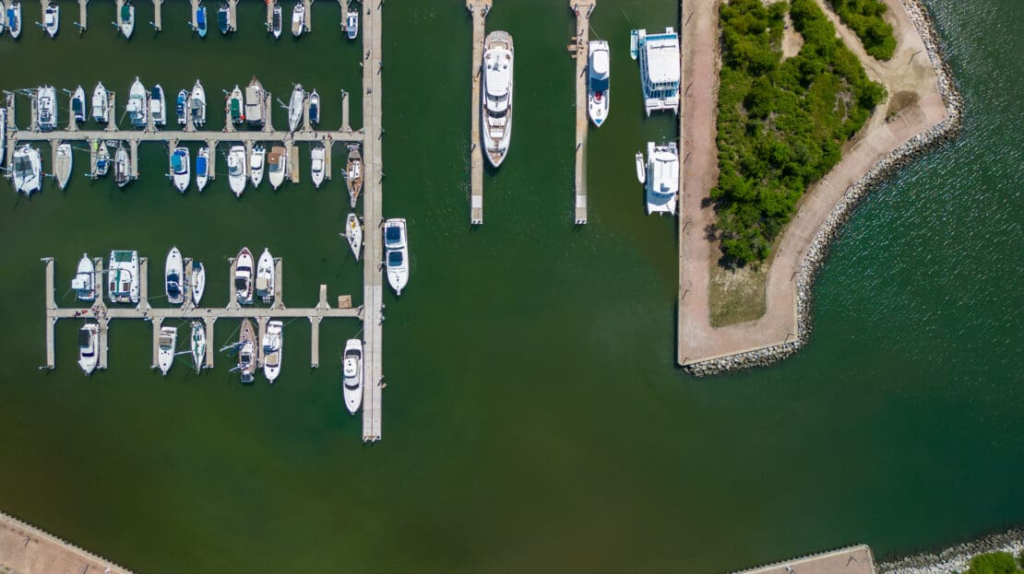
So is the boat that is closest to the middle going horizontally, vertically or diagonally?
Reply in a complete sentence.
The boat that is closest to the middle has been laid out vertically relative to the frame.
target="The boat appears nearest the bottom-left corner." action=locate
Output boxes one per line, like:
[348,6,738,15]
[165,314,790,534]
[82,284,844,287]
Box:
[78,315,100,376]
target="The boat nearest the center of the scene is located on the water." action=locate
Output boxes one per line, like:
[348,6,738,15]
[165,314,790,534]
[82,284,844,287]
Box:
[381,219,408,297]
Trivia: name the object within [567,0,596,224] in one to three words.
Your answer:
pier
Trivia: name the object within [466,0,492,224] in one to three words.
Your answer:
pier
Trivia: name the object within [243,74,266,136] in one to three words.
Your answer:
boat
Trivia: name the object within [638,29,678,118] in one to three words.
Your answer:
ship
